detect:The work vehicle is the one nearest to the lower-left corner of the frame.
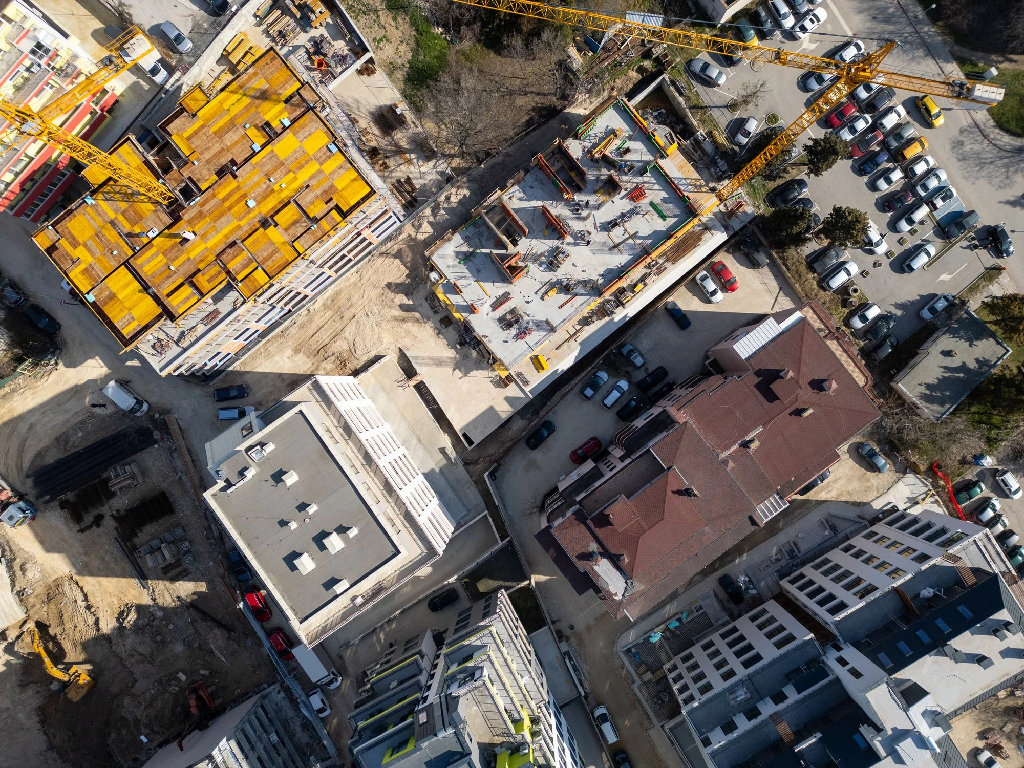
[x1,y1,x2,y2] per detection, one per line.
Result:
[27,621,97,703]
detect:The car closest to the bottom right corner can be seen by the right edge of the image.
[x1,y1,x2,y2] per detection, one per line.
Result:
[974,748,1001,768]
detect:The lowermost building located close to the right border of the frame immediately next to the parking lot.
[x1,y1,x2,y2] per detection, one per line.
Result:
[659,506,1024,768]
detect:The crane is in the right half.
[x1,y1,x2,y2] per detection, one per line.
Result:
[450,0,1024,202]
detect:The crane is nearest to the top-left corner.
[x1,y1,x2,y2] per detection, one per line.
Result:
[0,25,178,211]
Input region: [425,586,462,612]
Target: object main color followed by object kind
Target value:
black car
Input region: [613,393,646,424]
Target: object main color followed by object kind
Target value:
black car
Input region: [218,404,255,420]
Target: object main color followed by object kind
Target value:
blue car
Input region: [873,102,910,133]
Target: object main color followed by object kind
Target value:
white car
